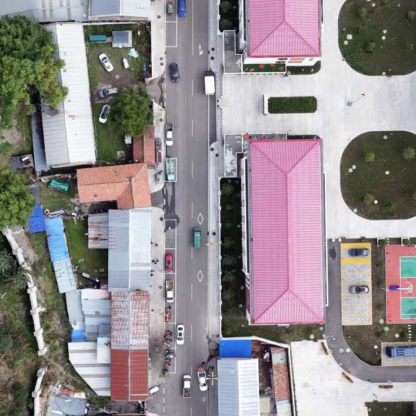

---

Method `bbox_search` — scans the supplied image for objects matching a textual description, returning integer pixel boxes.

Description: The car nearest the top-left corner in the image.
[99,53,113,72]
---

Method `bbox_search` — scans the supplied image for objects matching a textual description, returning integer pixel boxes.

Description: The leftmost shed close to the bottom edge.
[68,341,110,396]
